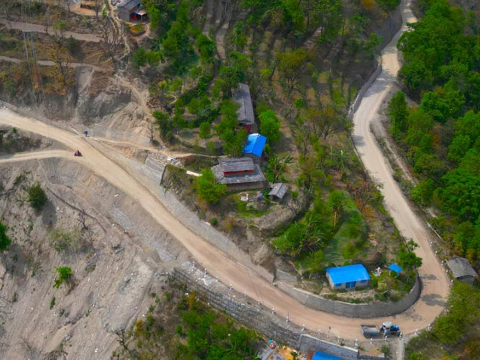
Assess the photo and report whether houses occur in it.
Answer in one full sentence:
Yes, you can see a house in this photo.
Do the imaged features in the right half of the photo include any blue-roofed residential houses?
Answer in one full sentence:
Yes, there is a blue-roofed residential house in the right half of the photo.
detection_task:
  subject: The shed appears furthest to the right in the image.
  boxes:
[447,254,479,283]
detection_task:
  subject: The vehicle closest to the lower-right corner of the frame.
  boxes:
[383,321,403,336]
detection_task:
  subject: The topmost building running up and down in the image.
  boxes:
[238,84,255,135]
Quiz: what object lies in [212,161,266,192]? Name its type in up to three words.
house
